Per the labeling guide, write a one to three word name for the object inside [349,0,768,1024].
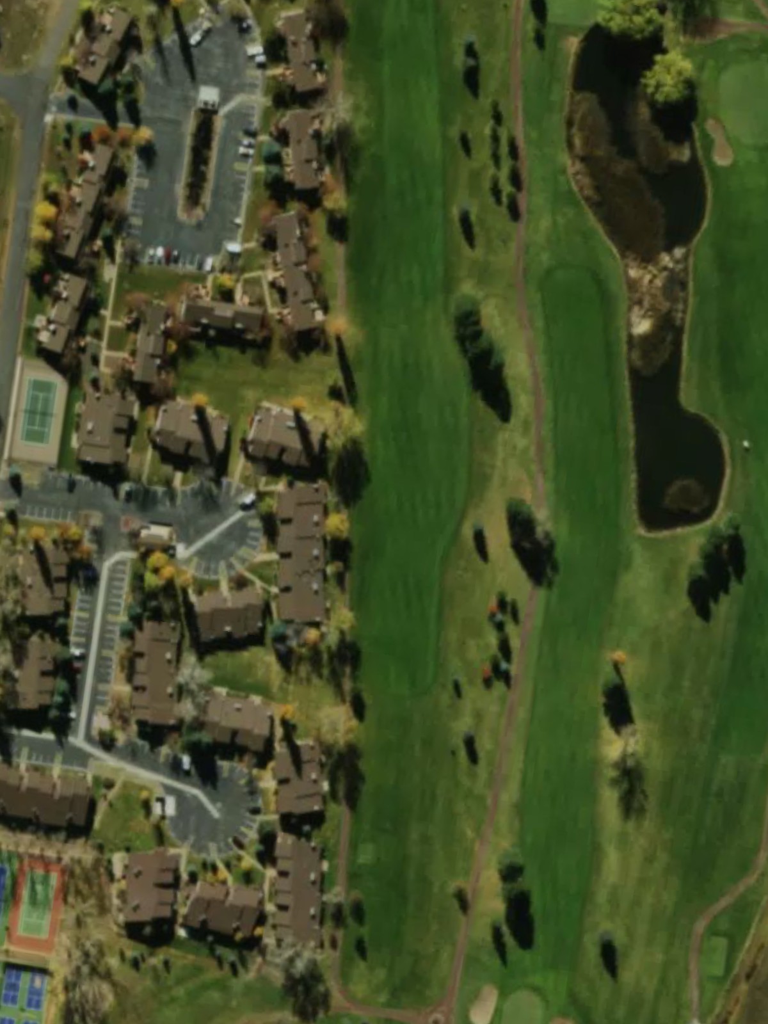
golf course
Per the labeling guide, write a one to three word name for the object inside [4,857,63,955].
tennis court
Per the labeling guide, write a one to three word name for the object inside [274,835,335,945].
house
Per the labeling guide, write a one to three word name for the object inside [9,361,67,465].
tennis court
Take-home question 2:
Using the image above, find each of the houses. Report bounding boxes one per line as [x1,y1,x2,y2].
[201,678,274,747]
[5,637,60,706]
[277,482,339,620]
[273,211,330,330]
[115,852,179,923]
[184,882,263,941]
[0,764,92,831]
[274,835,335,945]
[72,2,131,83]
[286,108,334,189]
[182,300,264,340]
[13,542,72,614]
[47,140,114,258]
[245,395,330,469]
[194,587,268,650]
[133,620,191,721]
[151,386,229,459]
[30,270,88,351]
[130,302,180,387]
[276,743,334,812]
[279,8,329,91]
[68,391,134,465]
